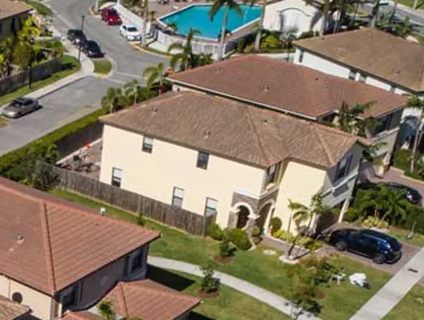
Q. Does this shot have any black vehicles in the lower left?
No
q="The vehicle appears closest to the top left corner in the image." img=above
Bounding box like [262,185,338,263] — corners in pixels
[65,23,86,43]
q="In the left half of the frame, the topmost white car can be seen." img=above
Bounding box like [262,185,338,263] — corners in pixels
[118,22,139,38]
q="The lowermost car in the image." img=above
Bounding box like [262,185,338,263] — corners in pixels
[330,227,407,262]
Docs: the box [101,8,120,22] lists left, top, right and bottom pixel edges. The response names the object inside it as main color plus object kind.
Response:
red vehicle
